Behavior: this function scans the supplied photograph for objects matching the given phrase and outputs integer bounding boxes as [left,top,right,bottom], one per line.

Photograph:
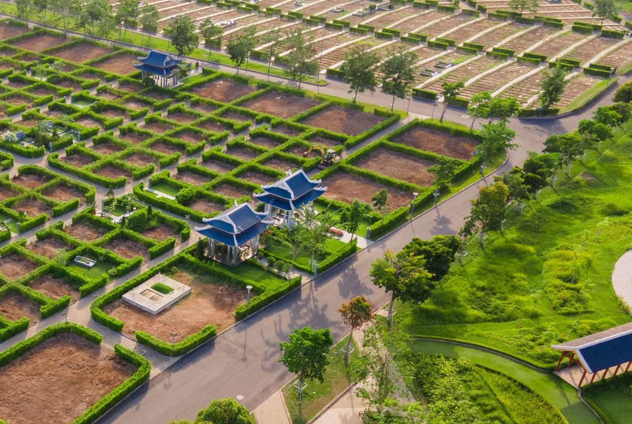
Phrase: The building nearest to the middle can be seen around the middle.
[250,165,332,232]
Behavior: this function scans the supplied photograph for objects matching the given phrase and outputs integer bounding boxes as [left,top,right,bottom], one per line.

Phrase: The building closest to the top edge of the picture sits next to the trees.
[137,46,194,91]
